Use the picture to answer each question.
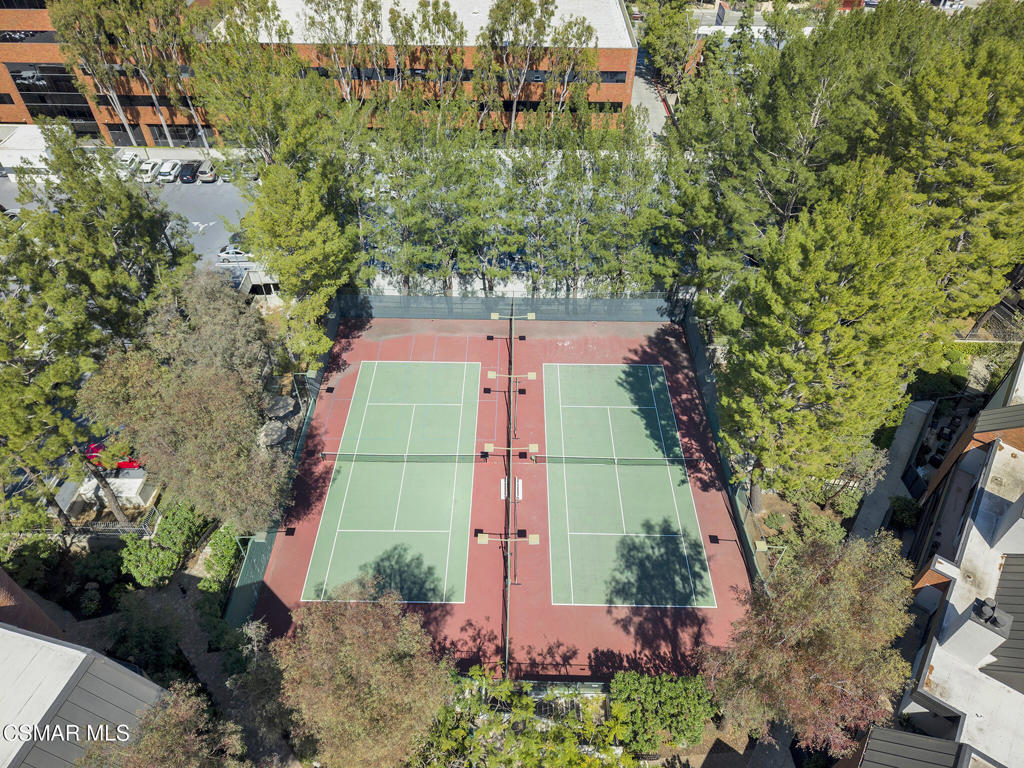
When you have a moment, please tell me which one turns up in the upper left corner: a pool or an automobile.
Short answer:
automobile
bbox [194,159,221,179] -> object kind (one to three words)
car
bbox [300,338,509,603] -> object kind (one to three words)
tennis court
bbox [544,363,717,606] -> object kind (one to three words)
tennis court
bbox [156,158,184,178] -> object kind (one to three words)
car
